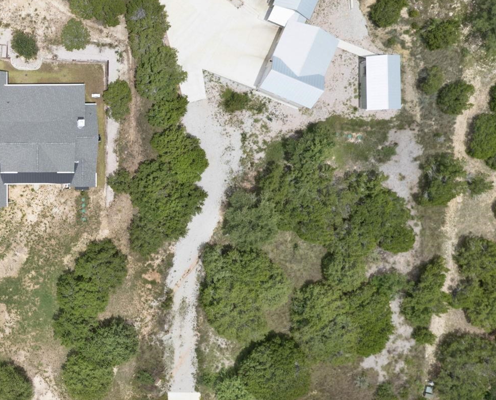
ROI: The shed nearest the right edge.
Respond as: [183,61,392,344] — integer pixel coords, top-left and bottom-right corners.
[358,55,401,111]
